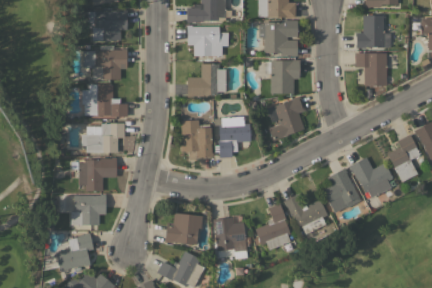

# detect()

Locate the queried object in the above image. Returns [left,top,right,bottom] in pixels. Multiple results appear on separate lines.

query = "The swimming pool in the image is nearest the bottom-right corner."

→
[341,206,362,220]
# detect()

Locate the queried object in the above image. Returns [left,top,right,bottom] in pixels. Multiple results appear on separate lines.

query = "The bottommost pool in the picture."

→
[218,262,232,286]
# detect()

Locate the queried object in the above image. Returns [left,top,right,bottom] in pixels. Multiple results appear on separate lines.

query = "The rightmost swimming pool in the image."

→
[411,41,424,62]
